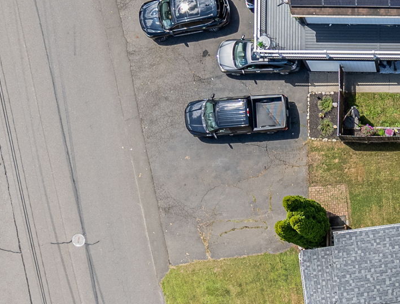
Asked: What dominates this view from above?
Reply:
paved ground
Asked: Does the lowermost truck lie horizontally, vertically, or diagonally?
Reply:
horizontally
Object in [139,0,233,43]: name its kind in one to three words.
car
